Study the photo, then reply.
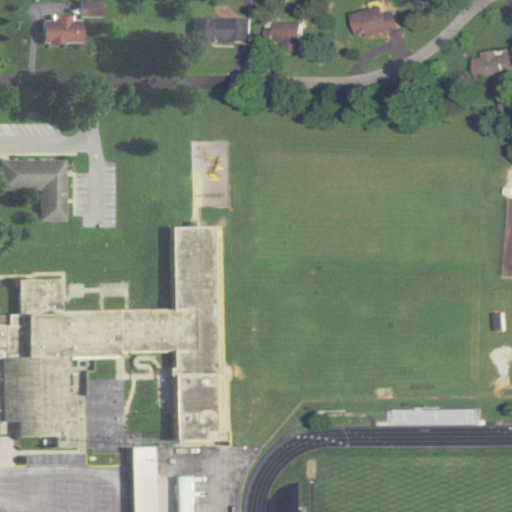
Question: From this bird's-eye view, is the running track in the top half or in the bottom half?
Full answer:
You can find the running track in the bottom half.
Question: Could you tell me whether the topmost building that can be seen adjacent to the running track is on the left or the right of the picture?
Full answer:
The topmost building that can be seen adjacent to the running track appears in the left half of the scene.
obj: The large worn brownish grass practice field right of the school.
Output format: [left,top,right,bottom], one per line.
[258,153,478,392]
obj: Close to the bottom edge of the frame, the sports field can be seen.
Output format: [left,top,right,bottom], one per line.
[267,446,512,512]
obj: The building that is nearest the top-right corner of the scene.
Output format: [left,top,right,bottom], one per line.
[470,49,512,78]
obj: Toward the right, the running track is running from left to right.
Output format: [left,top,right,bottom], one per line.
[240,422,512,512]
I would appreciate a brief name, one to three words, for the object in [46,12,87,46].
house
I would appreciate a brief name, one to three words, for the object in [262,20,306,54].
house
